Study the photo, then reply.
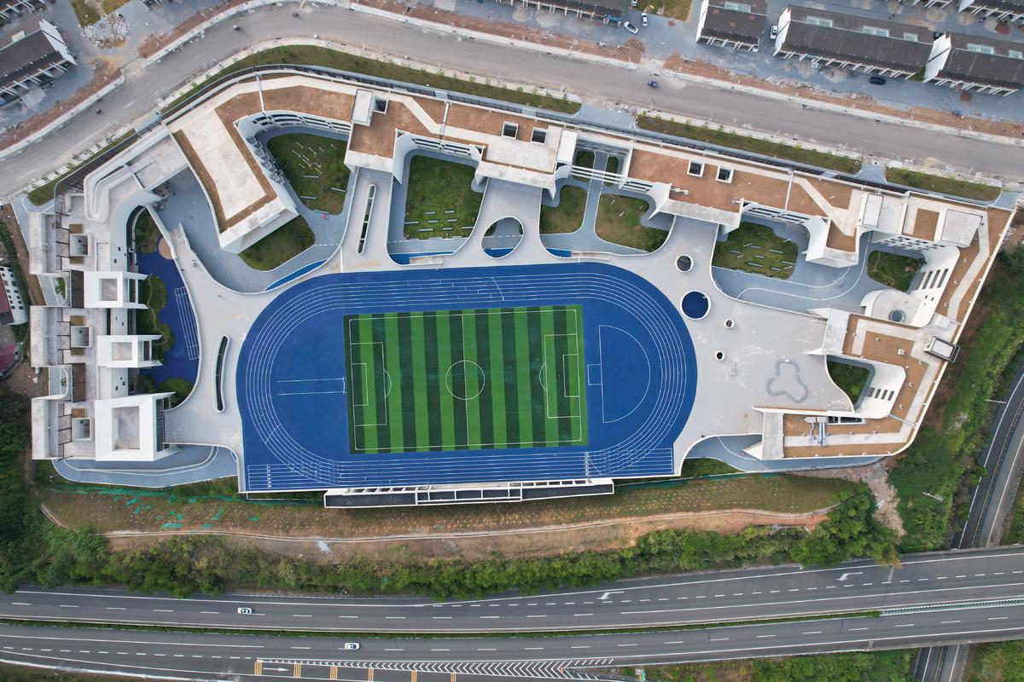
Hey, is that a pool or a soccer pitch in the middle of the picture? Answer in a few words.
soccer pitch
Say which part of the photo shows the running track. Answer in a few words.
center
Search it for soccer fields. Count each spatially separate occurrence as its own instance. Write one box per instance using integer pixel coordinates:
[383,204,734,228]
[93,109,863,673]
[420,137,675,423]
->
[344,305,587,454]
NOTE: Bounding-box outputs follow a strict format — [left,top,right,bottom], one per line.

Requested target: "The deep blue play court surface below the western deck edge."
[130,251,199,387]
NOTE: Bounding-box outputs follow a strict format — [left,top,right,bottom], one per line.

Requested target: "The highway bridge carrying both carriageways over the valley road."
[867,540,1024,652]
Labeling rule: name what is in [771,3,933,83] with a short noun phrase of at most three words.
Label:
house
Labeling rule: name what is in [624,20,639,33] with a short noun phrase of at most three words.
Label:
vehicle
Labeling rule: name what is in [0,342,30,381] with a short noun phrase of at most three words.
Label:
house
